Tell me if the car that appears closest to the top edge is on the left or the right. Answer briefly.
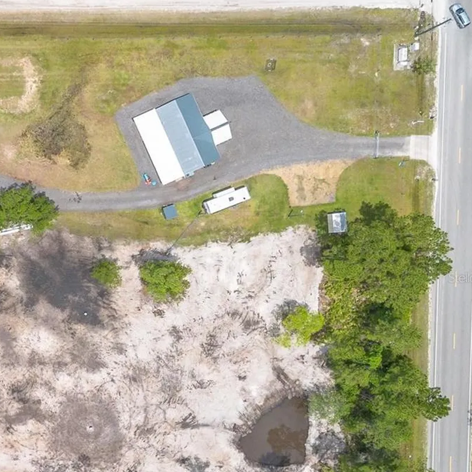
right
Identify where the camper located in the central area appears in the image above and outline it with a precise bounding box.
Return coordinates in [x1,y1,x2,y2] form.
[201,186,256,216]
